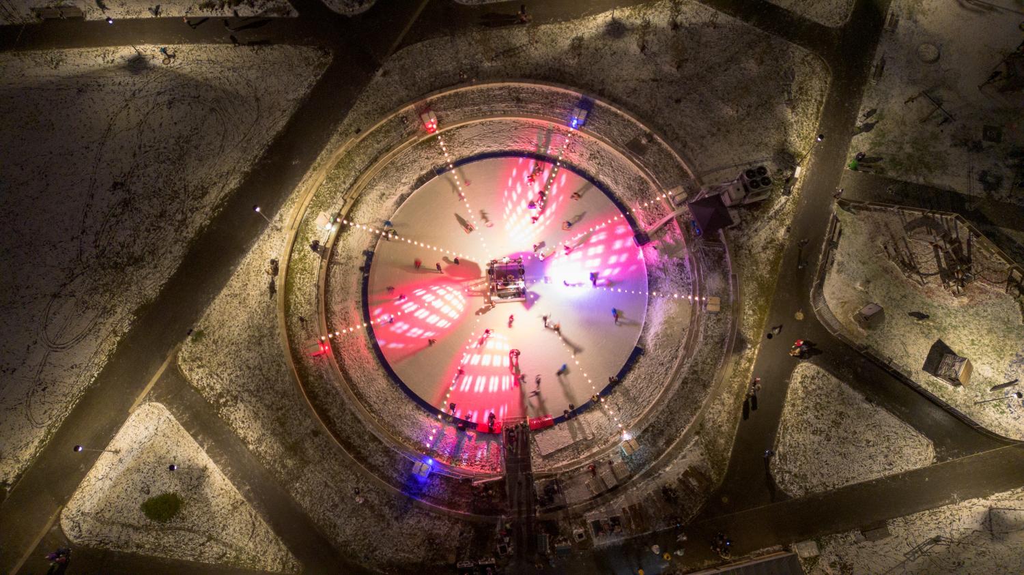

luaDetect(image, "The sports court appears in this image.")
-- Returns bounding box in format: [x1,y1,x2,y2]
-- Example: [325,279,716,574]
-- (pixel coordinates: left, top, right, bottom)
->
[368,158,646,428]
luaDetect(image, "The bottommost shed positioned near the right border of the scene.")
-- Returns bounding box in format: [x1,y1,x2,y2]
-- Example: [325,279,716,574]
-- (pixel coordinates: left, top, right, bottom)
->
[934,349,973,385]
